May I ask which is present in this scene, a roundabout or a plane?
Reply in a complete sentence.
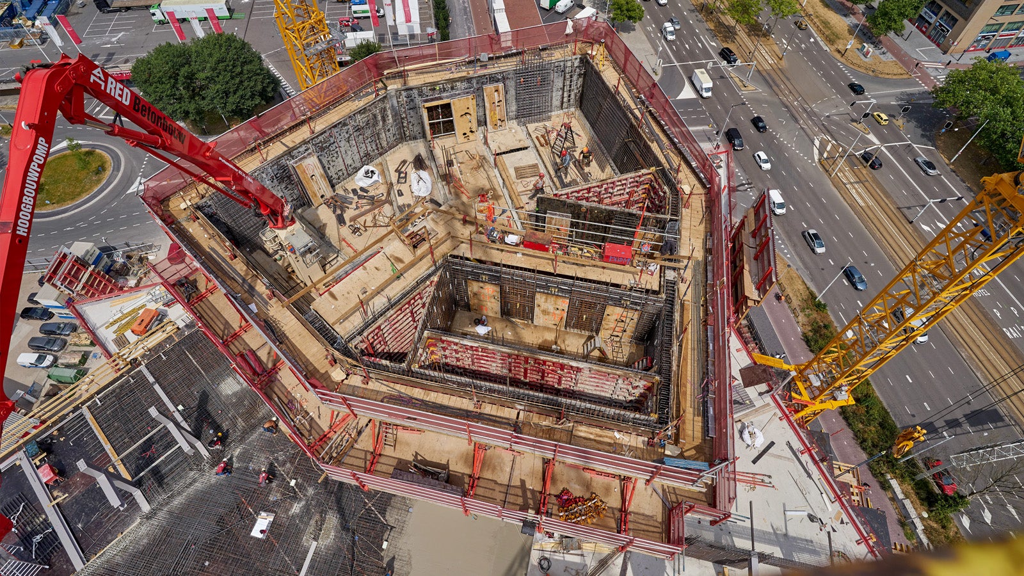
It is a roundabout that can be seen here.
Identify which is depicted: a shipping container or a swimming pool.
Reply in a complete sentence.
The one in the frame is a shipping container.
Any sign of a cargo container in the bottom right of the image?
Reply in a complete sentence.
No, there is no cargo container in the bottom right of the image.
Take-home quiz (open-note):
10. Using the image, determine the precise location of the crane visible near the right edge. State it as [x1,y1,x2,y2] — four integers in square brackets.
[752,168,1024,429]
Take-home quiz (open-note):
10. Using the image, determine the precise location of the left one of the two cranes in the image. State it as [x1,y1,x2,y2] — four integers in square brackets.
[274,0,365,89]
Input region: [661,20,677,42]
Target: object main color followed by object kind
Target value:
white vehicle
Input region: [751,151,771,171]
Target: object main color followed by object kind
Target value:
white car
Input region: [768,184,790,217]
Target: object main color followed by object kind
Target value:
white vehicle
